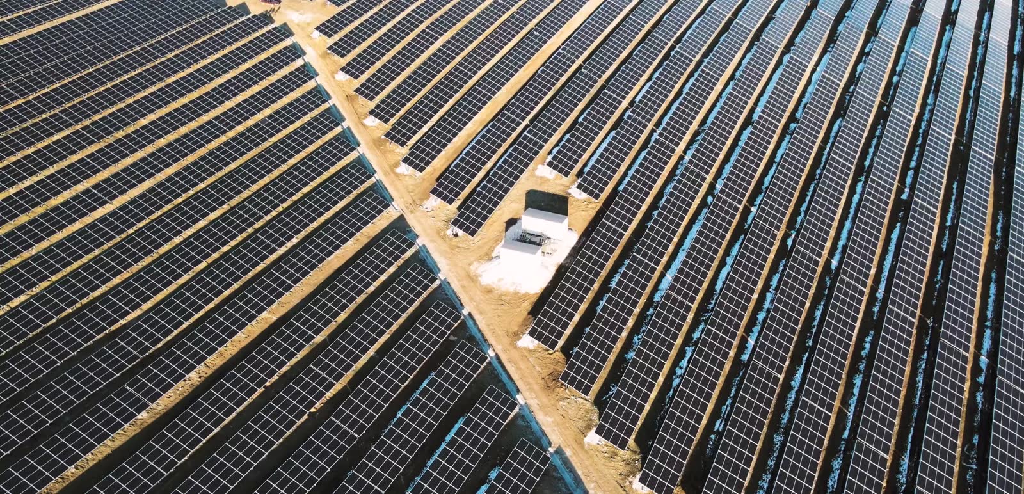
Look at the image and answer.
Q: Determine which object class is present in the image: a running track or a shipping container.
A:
shipping container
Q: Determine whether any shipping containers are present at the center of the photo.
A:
Yes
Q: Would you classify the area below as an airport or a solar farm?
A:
solar farm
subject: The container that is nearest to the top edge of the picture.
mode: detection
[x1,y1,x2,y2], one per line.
[523,207,566,237]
